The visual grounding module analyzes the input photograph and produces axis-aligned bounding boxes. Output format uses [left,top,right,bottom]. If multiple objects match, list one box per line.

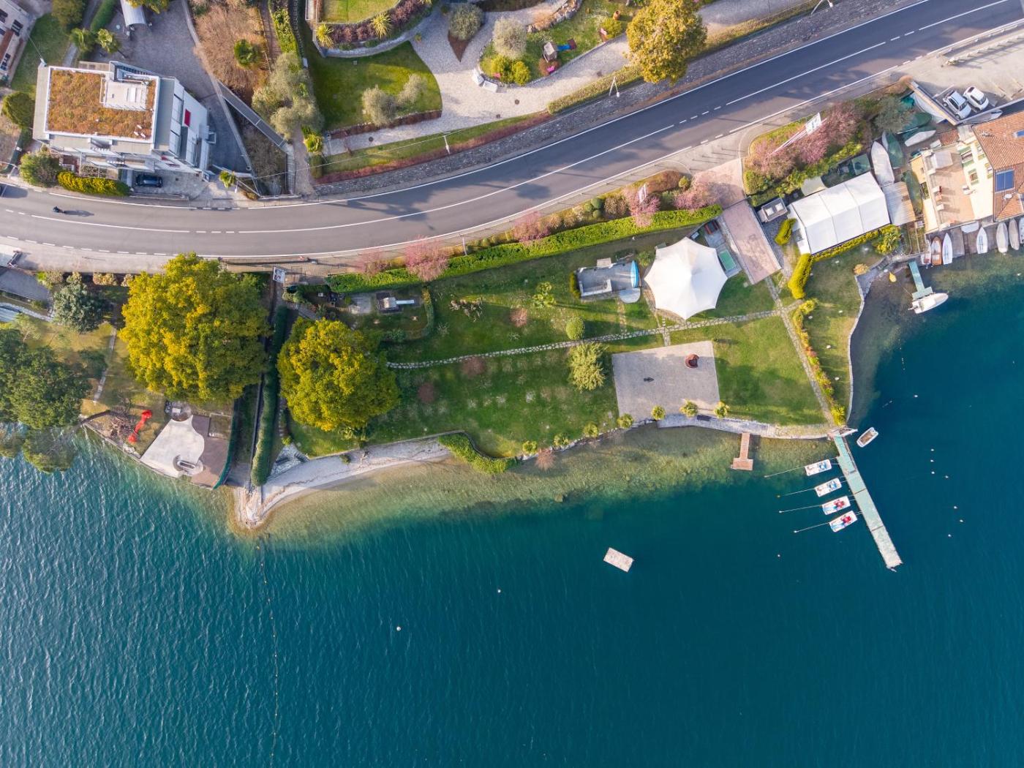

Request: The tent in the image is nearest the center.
[638,235,728,327]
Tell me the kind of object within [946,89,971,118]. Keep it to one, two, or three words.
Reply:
car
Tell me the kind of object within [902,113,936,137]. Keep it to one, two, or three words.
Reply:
boat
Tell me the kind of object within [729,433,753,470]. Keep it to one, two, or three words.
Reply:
pier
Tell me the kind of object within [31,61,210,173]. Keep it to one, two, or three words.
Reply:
house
